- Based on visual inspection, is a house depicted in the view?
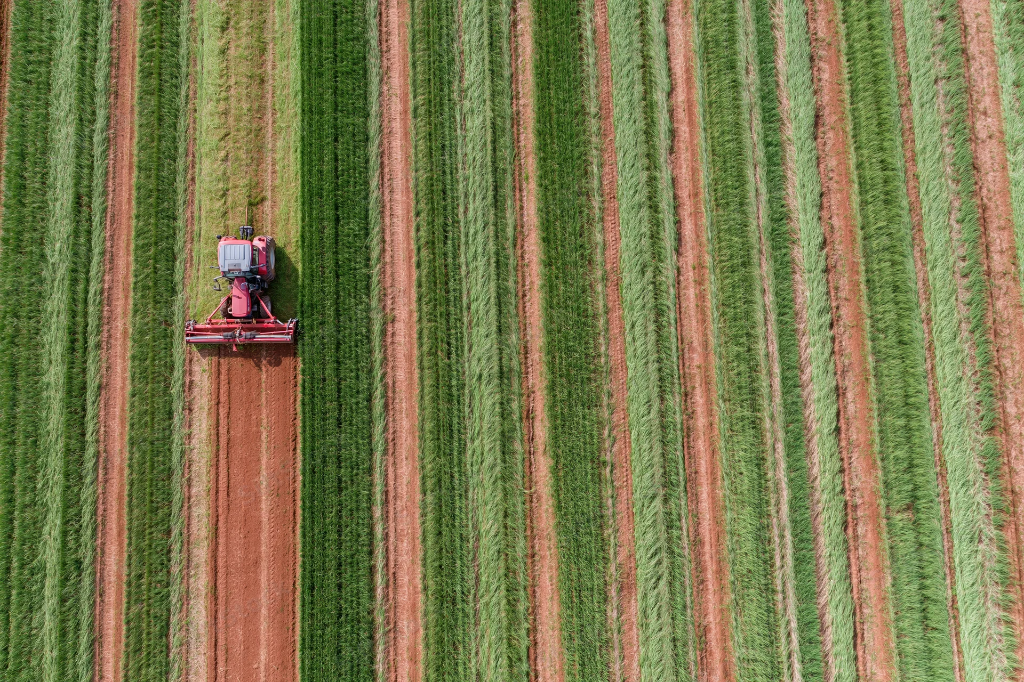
No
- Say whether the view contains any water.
No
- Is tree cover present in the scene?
No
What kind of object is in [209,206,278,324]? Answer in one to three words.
work vehicle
